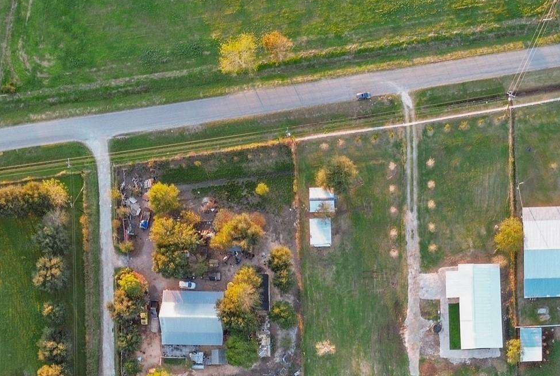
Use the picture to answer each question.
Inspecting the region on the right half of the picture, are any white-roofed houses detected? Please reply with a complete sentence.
Yes, you'll find a white-roofed house on the right half of the picture.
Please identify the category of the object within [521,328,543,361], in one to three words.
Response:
shed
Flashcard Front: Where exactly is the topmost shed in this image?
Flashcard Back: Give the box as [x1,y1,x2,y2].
[309,188,336,217]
